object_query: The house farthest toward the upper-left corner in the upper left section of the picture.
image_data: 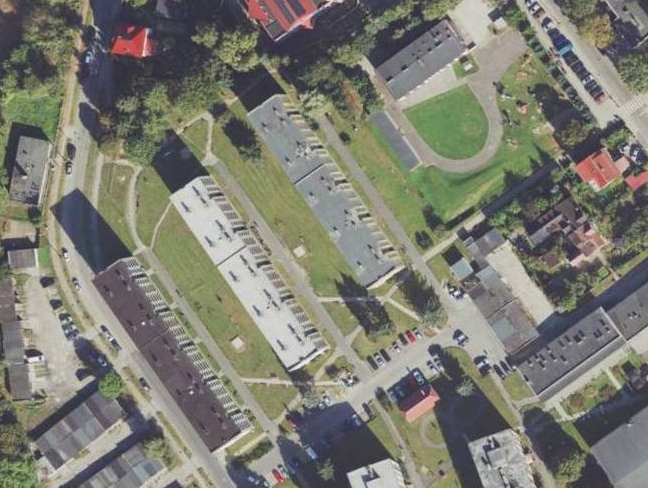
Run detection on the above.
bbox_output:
[112,28,158,58]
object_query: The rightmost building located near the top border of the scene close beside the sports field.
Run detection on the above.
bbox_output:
[378,20,466,96]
